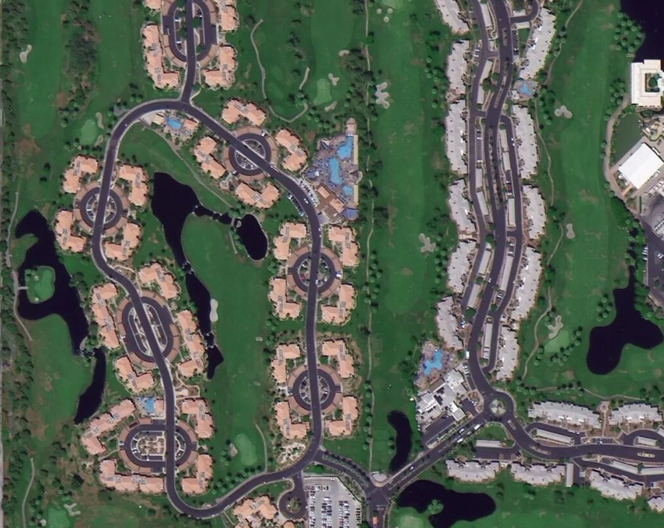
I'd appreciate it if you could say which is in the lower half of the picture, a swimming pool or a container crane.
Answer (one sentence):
The one visible in the lower half of the picture is a swimming pool.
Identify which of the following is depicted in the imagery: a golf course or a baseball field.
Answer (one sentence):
Of the two, only a golf course appears.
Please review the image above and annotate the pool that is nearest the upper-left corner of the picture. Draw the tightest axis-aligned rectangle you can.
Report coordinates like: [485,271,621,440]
[162,113,197,139]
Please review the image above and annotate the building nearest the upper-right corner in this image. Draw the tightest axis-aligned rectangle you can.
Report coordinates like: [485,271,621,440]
[632,58,664,107]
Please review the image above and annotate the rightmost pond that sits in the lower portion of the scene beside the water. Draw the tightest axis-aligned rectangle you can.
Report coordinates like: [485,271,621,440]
[586,265,664,375]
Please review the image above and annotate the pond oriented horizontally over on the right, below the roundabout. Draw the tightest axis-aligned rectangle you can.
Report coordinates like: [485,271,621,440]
[397,479,496,528]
